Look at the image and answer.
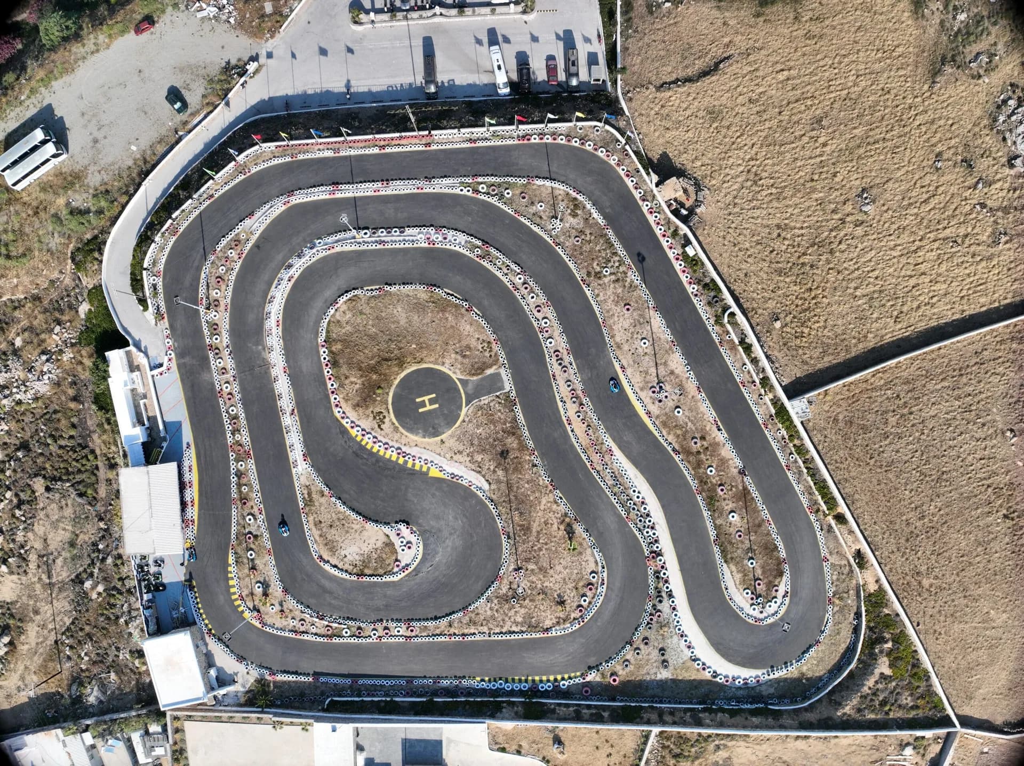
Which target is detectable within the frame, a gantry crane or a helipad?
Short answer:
helipad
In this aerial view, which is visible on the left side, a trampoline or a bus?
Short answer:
bus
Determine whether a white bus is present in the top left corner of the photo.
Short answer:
Yes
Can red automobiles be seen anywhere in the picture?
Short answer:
Yes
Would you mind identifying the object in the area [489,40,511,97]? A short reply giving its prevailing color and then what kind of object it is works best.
white vehicle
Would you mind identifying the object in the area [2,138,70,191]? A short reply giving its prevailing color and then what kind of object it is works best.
white bus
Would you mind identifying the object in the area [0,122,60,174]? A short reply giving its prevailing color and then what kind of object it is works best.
white bus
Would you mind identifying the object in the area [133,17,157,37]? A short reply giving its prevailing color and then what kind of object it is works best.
red car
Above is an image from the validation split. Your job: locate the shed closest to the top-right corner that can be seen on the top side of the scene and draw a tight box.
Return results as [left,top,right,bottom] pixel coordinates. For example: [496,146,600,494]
[657,176,683,205]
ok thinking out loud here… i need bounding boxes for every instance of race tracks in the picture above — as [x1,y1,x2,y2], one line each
[162,142,827,678]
